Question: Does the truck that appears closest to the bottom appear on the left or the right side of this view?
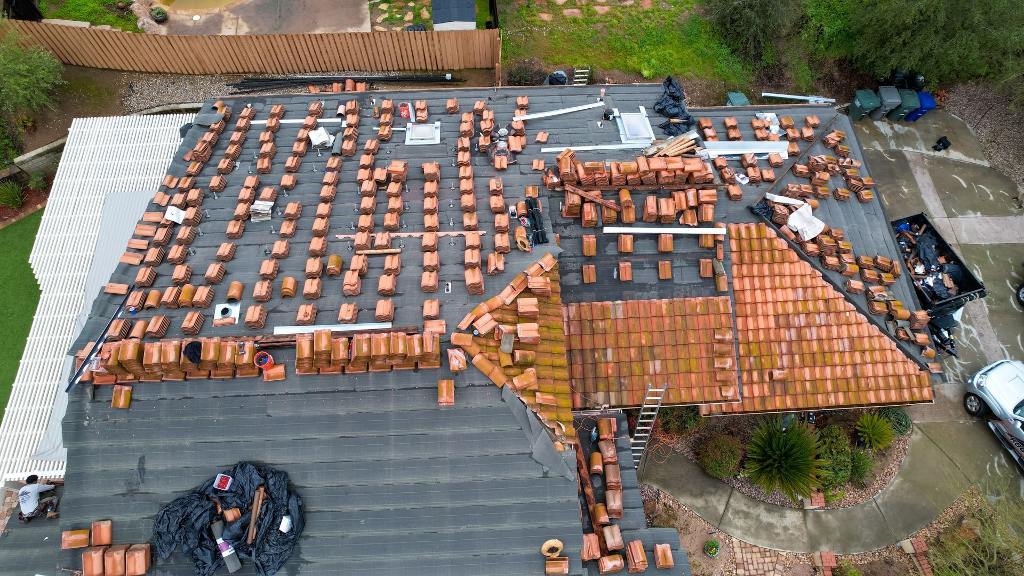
right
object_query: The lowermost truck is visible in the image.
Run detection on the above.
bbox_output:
[962,355,1024,490]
